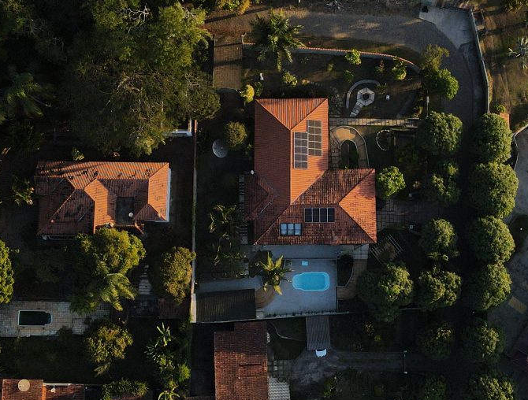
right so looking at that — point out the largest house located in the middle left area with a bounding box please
[34,162,169,235]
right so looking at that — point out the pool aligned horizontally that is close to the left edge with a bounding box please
[17,311,52,327]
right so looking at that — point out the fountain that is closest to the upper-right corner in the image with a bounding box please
[356,89,374,106]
